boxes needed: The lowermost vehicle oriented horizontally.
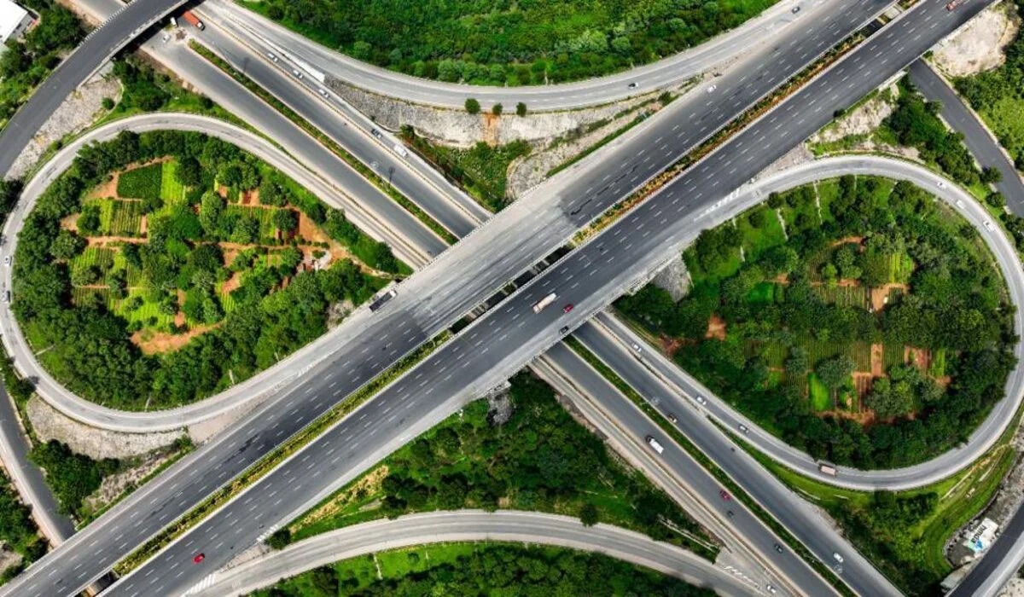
[819,464,838,476]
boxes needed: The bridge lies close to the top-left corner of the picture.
[94,0,186,56]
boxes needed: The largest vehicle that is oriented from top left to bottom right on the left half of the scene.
[178,6,204,28]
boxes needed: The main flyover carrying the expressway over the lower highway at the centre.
[440,238,601,392]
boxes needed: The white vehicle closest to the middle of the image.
[535,293,557,311]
